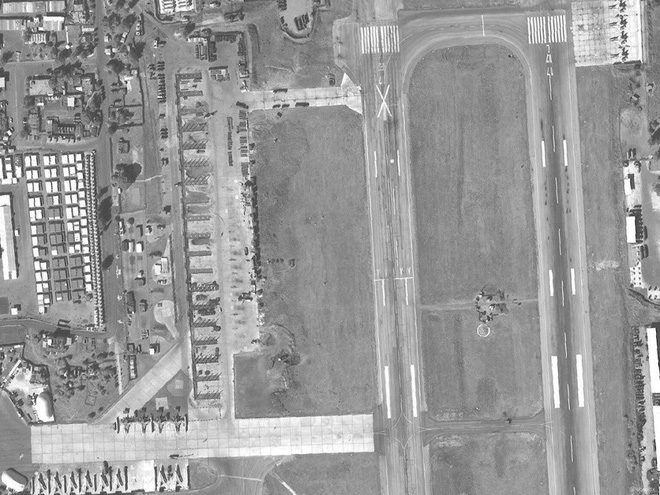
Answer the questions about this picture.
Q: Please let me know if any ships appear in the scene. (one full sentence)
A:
No, no ship is visible in the view.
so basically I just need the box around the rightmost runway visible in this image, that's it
[520,0,600,495]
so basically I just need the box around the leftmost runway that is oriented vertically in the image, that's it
[358,0,432,495]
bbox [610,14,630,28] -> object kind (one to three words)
airplane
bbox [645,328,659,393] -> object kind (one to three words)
building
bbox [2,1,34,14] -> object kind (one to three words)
building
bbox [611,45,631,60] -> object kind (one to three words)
airplane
